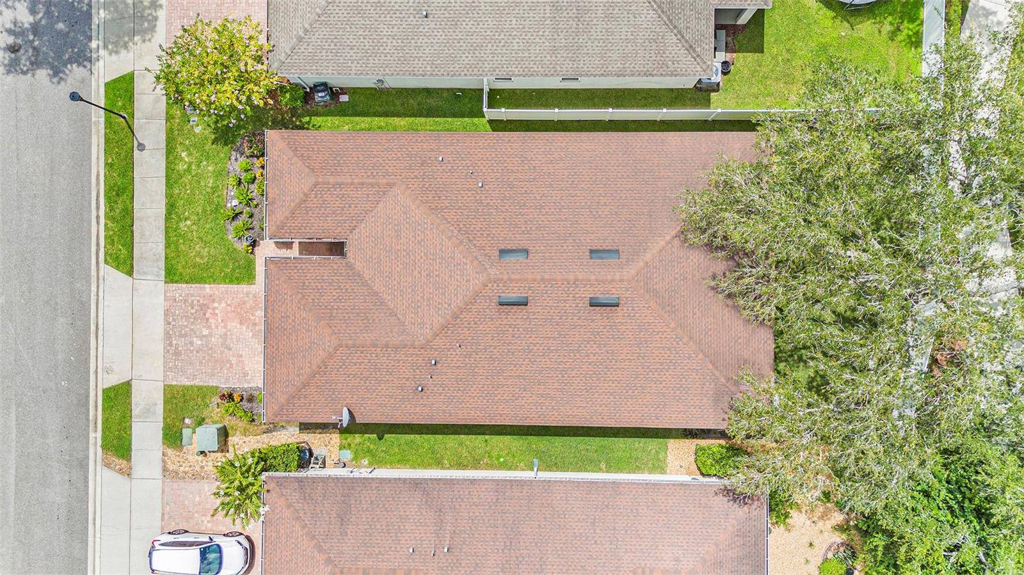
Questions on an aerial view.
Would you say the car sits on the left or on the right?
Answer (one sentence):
You can find the car on the left side of the picture.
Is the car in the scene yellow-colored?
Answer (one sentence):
No, the color of the car is white.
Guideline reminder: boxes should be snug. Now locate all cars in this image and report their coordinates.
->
[149,528,254,575]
